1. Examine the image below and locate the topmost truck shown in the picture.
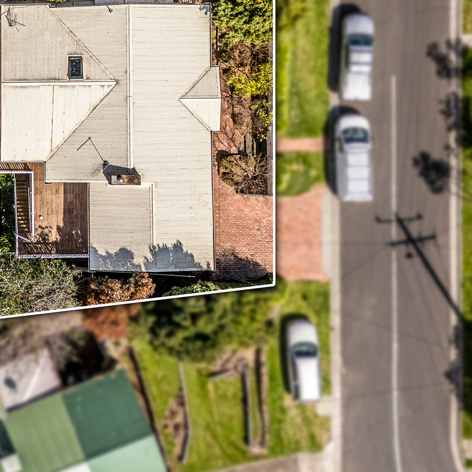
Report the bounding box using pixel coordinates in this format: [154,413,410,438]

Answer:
[342,15,382,99]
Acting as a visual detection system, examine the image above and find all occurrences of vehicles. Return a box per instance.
[338,117,381,200]
[342,15,382,99]
[288,320,328,405]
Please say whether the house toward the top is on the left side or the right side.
left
